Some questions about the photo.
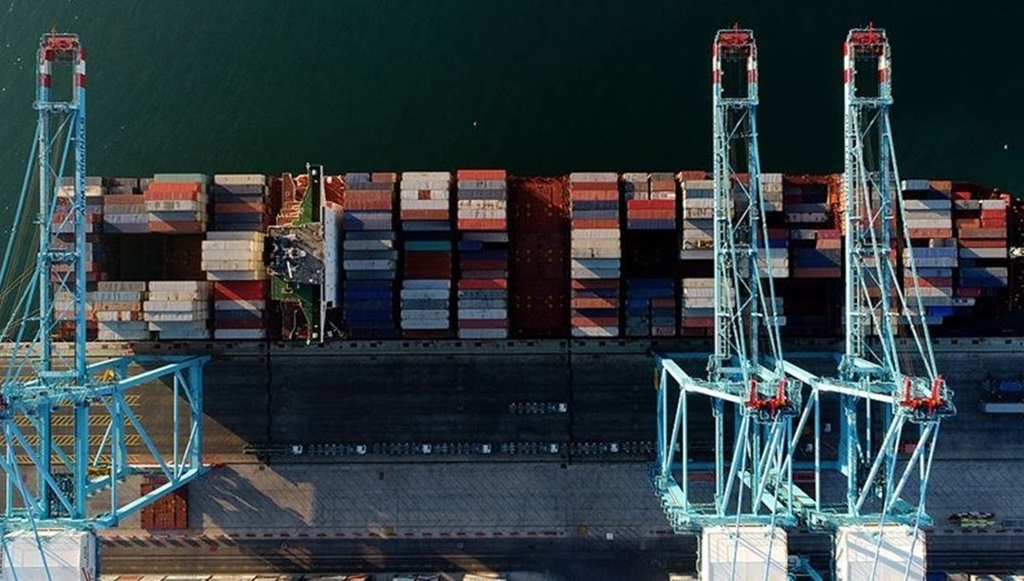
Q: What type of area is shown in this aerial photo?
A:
port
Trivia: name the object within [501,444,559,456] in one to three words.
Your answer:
vehicle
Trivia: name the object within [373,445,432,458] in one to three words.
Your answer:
vehicle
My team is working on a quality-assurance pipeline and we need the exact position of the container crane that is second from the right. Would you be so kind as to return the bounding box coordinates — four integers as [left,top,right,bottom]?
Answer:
[635,18,802,581]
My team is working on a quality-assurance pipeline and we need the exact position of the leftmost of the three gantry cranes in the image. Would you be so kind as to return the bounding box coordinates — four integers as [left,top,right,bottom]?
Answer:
[0,22,223,581]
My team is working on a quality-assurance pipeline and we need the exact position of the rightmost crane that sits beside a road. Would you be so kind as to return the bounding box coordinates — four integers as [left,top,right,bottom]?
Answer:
[742,17,953,581]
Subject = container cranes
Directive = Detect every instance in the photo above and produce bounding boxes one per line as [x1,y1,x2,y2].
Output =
[0,22,223,581]
[742,17,953,581]
[635,18,802,581]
